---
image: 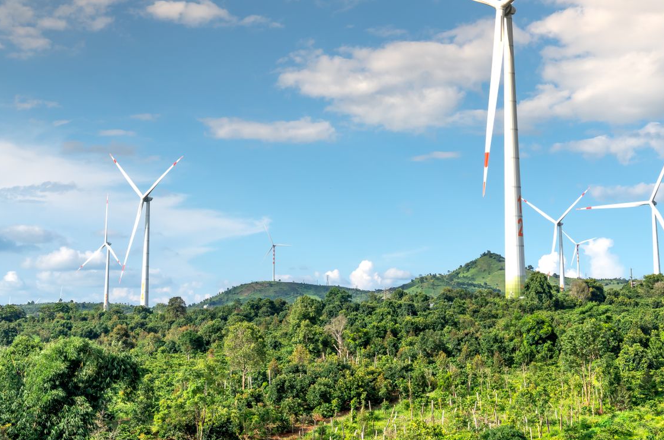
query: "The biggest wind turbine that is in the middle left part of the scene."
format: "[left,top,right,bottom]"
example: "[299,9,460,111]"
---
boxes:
[111,155,184,306]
